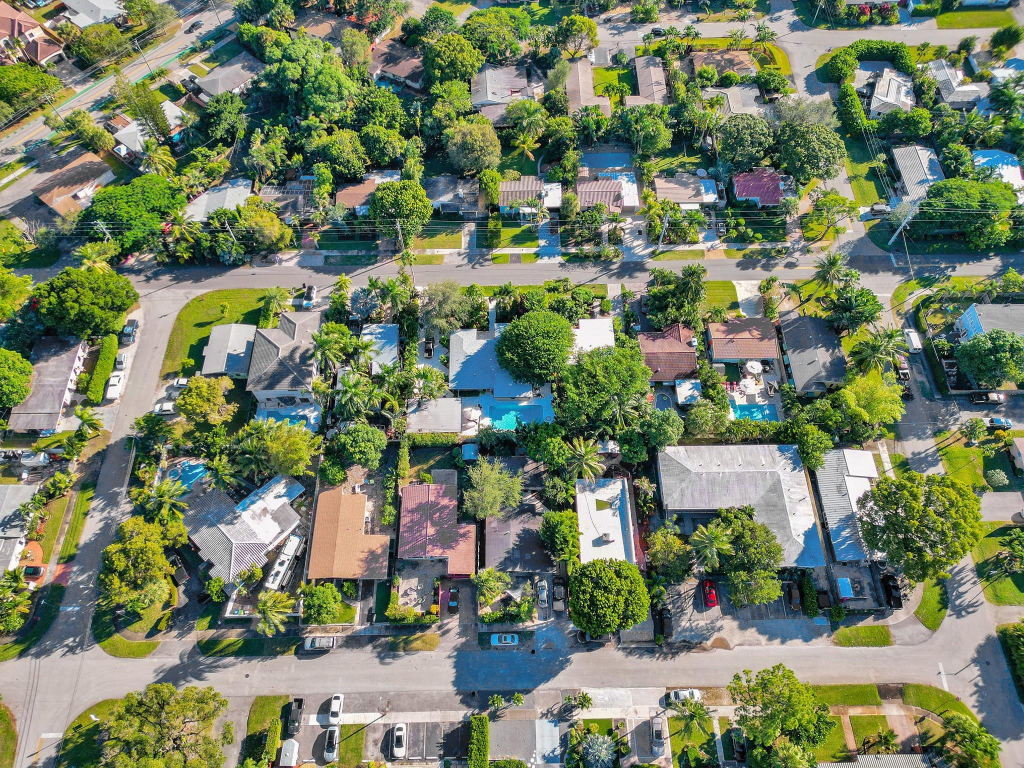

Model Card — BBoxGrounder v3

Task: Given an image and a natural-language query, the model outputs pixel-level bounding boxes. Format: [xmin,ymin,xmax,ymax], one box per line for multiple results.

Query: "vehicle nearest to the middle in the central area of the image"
[423,336,435,361]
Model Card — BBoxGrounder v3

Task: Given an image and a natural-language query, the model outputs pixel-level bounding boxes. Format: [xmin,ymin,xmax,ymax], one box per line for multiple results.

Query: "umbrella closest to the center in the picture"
[465,407,480,421]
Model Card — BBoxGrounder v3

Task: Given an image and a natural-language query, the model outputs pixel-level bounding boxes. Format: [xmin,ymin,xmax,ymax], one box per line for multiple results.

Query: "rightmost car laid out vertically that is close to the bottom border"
[730,728,748,763]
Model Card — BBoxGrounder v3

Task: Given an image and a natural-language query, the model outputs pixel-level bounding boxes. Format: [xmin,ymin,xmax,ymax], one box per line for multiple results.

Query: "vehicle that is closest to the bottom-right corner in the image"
[881,575,901,610]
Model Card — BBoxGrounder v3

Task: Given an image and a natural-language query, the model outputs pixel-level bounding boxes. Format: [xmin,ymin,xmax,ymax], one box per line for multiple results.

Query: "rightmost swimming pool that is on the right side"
[861,60,894,72]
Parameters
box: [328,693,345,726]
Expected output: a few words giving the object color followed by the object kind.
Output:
white car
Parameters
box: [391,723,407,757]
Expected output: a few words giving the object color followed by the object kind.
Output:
white car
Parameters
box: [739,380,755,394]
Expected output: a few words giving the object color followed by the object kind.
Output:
white umbrella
